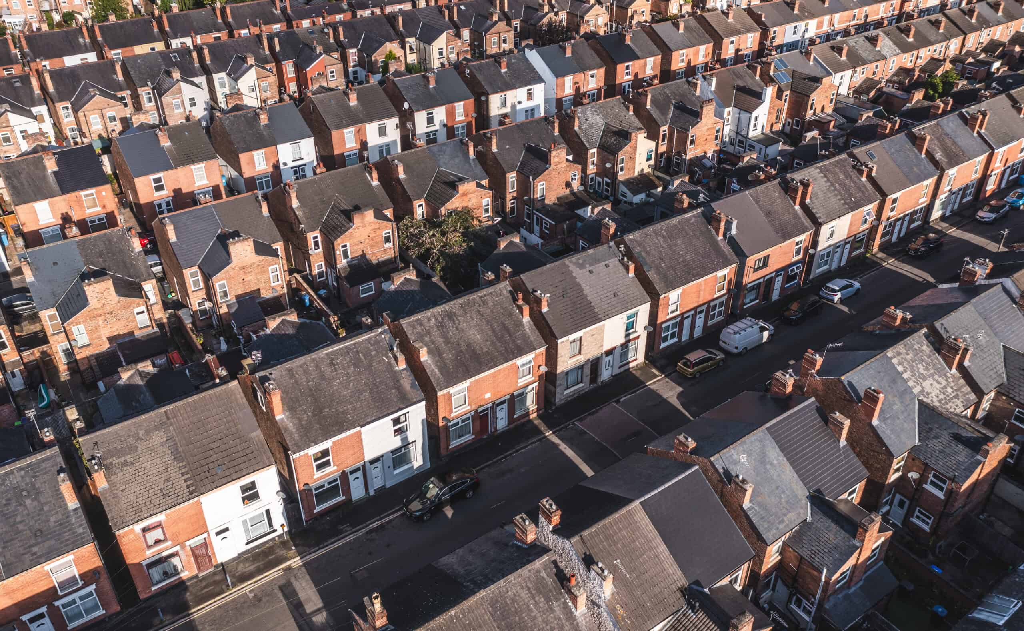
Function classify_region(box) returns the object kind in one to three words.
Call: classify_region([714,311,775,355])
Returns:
van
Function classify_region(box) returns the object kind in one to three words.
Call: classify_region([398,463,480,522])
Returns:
car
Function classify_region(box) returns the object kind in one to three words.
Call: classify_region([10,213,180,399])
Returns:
house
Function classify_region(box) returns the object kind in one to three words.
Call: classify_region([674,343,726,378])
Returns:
car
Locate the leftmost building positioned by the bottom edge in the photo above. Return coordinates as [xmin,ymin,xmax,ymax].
[0,406,124,631]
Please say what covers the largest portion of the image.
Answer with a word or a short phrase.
buildings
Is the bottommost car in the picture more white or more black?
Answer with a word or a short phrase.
black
